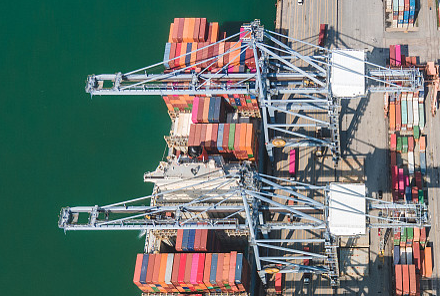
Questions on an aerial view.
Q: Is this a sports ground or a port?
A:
port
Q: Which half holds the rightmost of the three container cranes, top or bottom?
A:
top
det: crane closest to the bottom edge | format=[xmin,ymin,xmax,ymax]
[55,165,432,294]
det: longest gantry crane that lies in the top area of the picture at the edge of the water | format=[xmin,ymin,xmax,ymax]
[84,18,424,171]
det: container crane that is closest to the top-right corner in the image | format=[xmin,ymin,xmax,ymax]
[382,62,439,110]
